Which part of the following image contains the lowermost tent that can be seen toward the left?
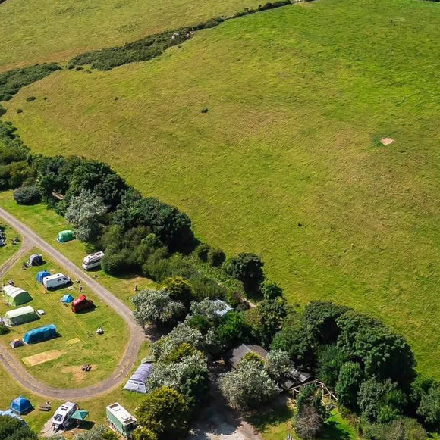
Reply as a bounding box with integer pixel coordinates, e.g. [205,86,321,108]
[10,398,33,421]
